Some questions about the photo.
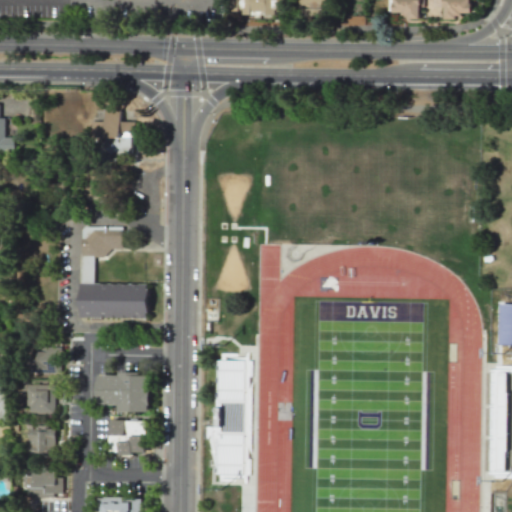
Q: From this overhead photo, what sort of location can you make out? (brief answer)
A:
sports ground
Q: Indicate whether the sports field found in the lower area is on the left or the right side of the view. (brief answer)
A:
right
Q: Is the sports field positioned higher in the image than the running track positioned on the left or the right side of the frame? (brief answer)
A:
right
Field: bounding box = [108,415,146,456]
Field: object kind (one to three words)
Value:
building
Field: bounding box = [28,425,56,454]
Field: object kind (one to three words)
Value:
house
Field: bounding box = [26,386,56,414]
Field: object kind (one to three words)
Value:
house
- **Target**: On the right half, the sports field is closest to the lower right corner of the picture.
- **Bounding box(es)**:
[292,297,450,512]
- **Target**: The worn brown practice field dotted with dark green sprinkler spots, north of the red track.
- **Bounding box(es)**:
[250,124,481,244]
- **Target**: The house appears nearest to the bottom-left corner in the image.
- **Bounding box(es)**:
[23,474,64,498]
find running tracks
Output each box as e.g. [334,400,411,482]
[256,244,484,512]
